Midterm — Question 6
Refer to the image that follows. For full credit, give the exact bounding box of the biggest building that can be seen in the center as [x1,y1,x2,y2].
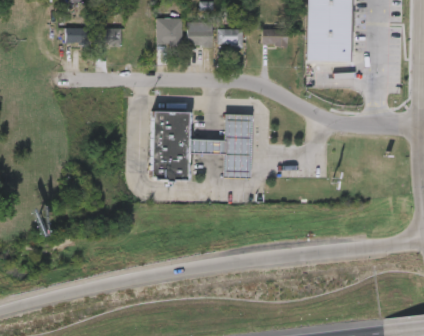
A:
[150,112,192,184]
